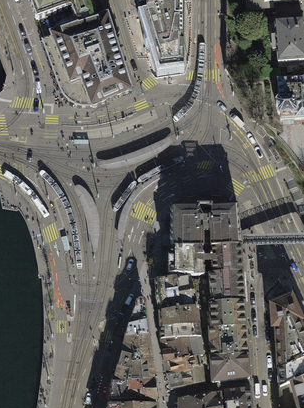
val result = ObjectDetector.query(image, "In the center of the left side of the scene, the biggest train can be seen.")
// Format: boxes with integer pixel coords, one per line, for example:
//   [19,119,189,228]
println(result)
[40,168,82,268]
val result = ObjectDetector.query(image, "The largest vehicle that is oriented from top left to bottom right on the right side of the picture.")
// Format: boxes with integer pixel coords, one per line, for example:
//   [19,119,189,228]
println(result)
[230,111,249,133]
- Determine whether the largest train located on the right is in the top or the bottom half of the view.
top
